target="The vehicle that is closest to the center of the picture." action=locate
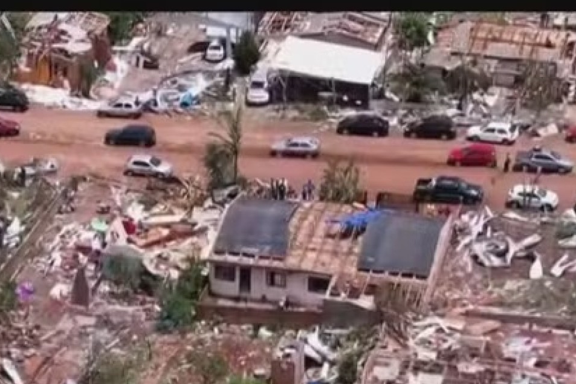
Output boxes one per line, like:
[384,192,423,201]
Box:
[269,137,321,161]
